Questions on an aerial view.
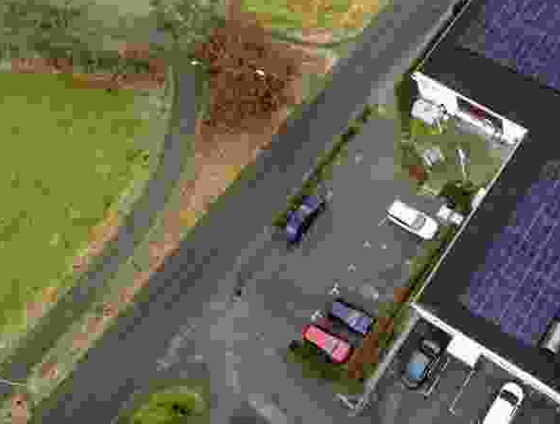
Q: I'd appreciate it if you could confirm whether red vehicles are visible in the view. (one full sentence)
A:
Yes, there is a red vehicle in the image.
